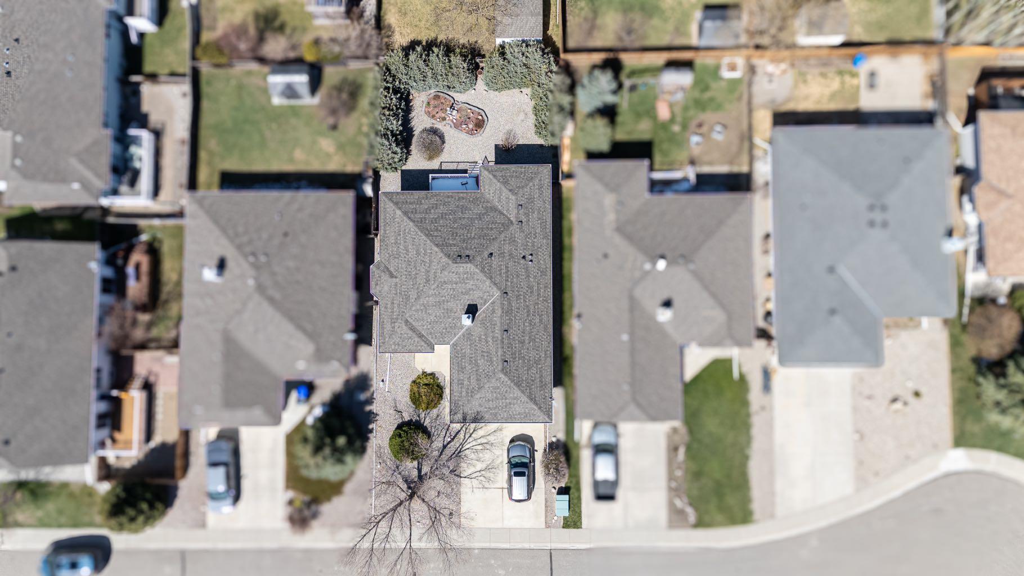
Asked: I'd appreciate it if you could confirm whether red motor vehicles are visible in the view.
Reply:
No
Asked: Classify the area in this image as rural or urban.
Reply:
urban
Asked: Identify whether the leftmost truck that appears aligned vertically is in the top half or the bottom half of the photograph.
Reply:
bottom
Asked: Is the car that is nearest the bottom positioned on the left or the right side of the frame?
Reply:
left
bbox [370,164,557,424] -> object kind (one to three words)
house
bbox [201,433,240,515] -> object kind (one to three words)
truck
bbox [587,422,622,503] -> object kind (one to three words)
truck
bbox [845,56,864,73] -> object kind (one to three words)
umbrella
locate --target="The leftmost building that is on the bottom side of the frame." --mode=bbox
[0,240,123,468]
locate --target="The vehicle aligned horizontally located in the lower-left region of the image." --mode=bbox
[42,548,105,576]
